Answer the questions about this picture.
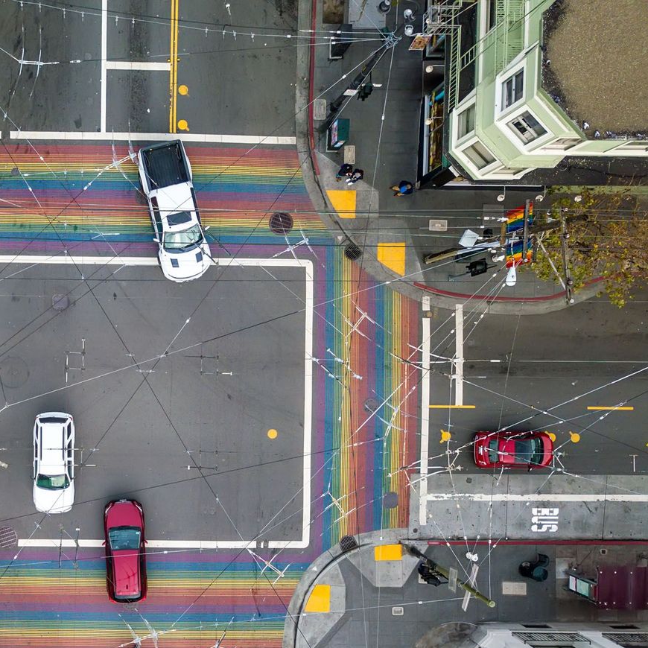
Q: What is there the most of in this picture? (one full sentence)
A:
The scene is dominated by paved ground.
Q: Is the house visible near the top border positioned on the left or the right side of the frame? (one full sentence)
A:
You can find the house visible near the top border on the right side of the picture.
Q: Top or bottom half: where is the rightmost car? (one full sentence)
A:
It is in the bottom half that the rightmost car appears.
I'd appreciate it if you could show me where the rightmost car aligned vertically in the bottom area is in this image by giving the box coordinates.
[100,499,150,601]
